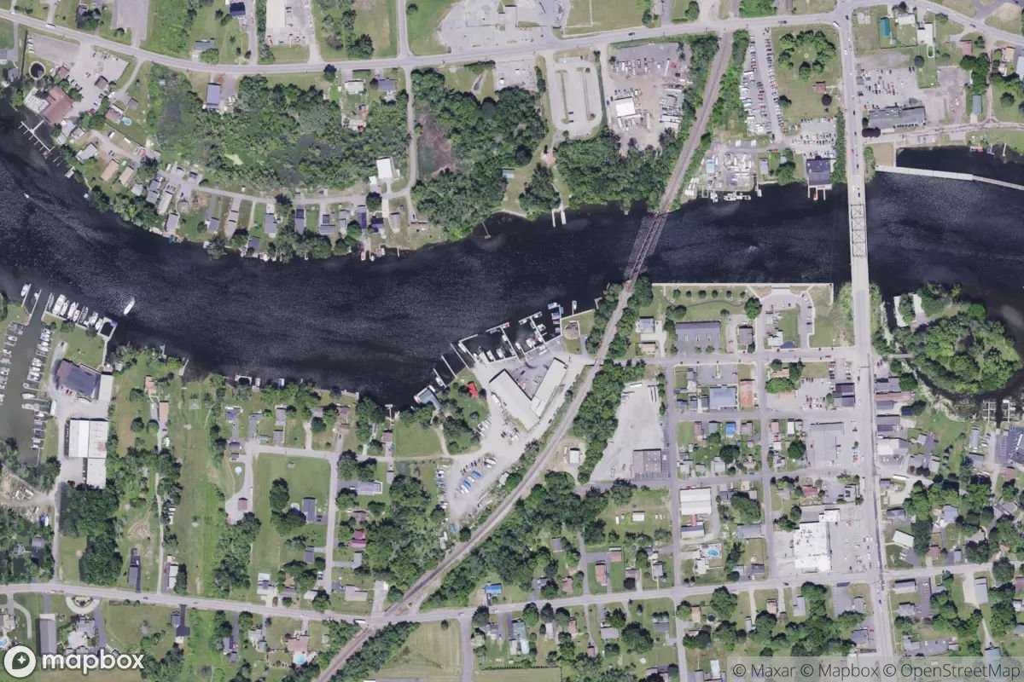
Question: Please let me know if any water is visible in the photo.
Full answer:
Yes, the picture does contain water.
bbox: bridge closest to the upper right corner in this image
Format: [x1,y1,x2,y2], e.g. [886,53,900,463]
[848,179,871,285]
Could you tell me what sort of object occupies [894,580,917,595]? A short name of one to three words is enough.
house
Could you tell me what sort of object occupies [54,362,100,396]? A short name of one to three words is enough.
building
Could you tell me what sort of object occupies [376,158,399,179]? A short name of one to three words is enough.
barn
